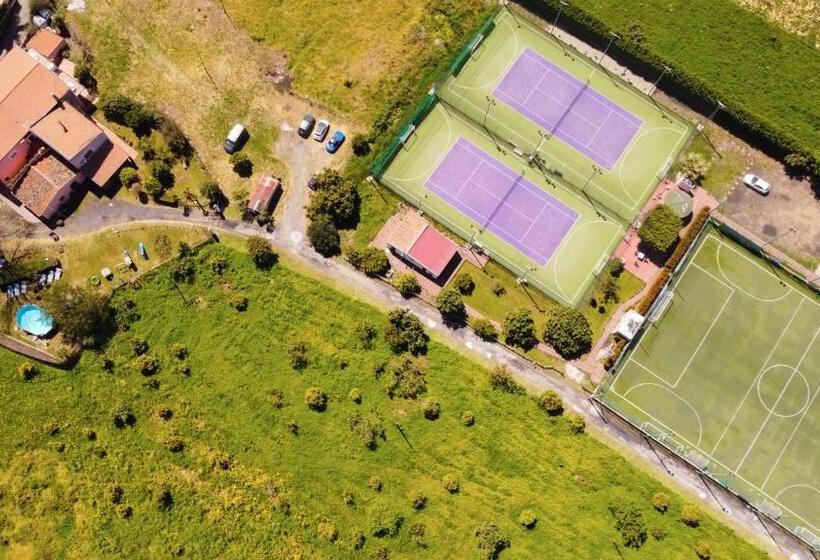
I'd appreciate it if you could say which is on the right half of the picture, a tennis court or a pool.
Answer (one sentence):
Looking on the right half of the picture, you will find a tennis court.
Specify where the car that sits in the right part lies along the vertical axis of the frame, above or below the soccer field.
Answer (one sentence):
As seen from overhead, the car that sits in the right part falls above the soccer field in the picture.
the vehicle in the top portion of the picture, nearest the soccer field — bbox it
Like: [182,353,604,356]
[742,175,772,195]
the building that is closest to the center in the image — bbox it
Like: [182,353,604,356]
[386,213,458,281]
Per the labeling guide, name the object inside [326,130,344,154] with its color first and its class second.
blue car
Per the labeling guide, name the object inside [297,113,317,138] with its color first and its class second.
gray car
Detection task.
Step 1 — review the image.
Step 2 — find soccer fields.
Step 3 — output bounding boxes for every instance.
[596,221,820,550]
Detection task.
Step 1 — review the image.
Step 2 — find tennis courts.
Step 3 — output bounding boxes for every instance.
[438,4,698,219]
[372,93,634,313]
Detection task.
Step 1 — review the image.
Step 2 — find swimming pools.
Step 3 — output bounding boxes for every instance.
[15,304,55,338]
